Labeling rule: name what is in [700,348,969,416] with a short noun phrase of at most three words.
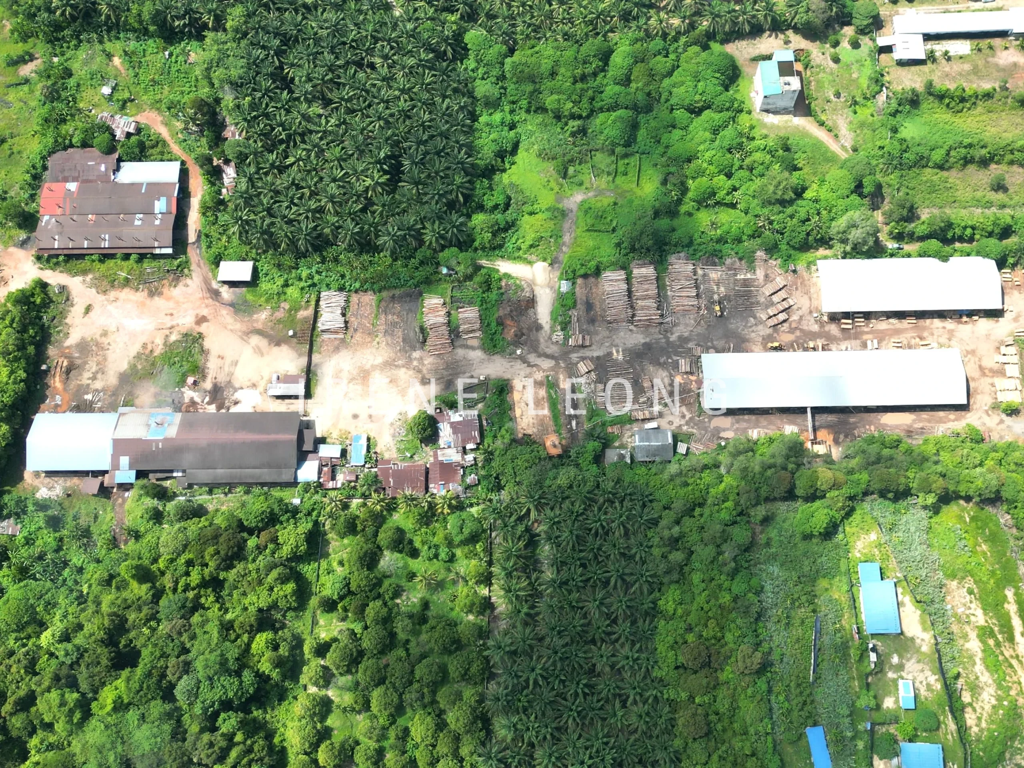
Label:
building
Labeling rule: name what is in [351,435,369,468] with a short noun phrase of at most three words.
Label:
shed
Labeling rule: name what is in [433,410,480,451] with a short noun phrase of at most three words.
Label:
house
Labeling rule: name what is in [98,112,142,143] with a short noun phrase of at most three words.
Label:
shed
